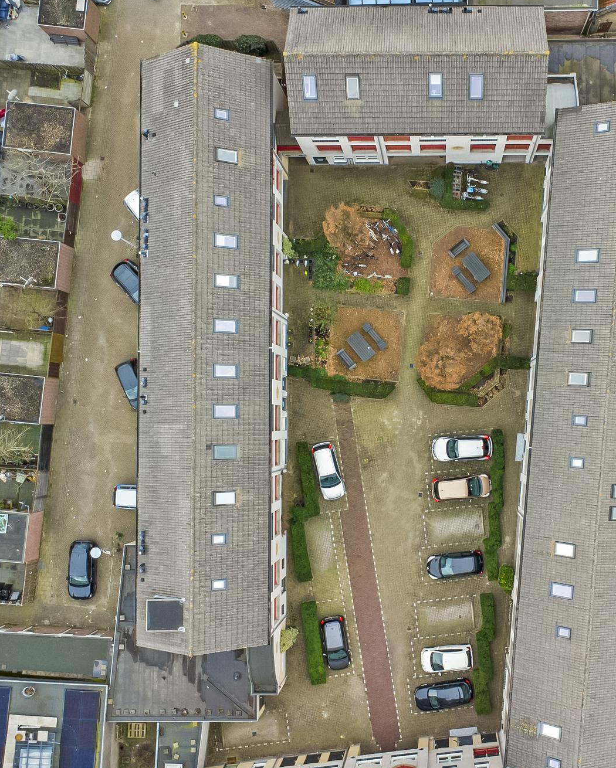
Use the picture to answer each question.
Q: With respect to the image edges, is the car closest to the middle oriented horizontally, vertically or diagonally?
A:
vertically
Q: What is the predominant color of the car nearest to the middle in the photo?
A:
white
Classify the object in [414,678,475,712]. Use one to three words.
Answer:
car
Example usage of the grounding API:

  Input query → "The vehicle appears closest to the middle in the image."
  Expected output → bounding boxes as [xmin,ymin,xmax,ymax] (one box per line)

[313,441,344,502]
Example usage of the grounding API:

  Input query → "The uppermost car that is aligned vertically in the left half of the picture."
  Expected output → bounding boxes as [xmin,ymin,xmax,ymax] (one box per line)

[124,188,137,218]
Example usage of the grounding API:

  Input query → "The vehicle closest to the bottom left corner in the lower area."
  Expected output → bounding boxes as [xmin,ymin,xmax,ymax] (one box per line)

[66,539,99,599]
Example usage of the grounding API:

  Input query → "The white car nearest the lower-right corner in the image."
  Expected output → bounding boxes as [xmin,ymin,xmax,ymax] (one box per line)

[420,645,475,674]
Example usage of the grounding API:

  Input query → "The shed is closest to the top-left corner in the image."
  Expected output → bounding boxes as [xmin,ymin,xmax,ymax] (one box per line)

[36,0,101,43]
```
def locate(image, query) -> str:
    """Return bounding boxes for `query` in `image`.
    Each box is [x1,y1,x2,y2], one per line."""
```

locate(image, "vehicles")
[420,645,475,674]
[432,474,492,502]
[66,539,99,599]
[114,257,136,305]
[124,188,137,218]
[425,550,485,580]
[110,484,135,508]
[320,616,351,668]
[414,678,475,712]
[432,434,493,464]
[313,441,344,502]
[115,358,136,416]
